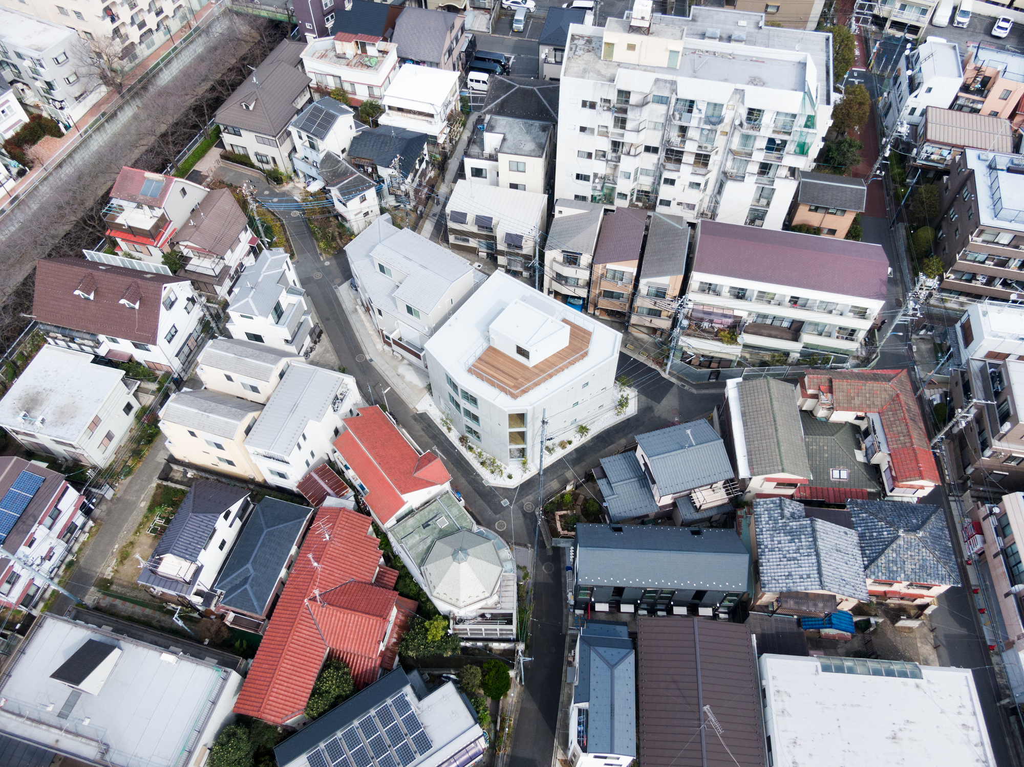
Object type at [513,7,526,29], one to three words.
vehicle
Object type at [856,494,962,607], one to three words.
house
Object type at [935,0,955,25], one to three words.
vehicle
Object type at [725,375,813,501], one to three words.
house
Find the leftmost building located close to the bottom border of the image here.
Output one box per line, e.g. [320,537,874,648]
[0,609,245,767]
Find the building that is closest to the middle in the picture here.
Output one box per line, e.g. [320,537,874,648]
[425,270,622,464]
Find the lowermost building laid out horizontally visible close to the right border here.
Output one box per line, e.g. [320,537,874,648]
[755,654,997,767]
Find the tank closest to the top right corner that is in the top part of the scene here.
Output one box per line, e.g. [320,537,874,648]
[625,0,660,20]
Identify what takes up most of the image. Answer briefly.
buildings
